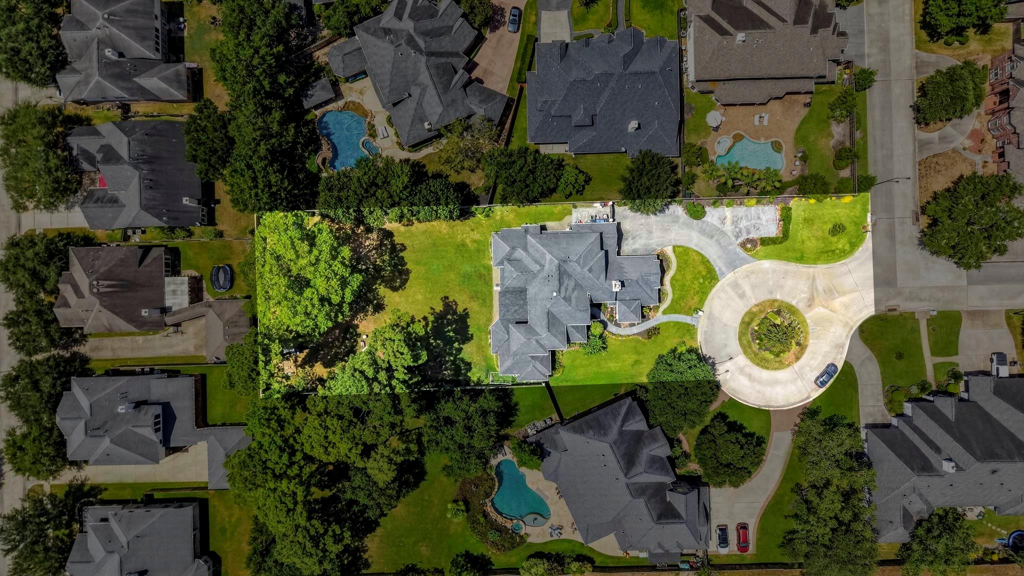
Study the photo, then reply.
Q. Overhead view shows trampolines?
Yes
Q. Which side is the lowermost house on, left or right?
left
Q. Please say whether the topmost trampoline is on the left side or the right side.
left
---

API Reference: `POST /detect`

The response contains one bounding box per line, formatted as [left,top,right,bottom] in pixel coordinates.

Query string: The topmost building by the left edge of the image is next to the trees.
[42,0,198,106]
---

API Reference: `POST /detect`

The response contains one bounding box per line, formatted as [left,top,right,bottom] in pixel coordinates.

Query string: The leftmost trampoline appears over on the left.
[204,264,230,292]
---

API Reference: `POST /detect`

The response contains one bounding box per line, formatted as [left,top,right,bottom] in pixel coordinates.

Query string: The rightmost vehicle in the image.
[994,349,1012,375]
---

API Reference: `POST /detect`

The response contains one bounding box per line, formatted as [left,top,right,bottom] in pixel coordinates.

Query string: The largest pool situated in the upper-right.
[713,130,787,174]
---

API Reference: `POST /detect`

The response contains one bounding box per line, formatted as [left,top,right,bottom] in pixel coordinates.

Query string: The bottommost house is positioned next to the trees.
[48,498,213,576]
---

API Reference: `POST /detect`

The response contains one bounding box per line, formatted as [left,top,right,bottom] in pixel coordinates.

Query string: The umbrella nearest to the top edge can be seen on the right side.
[706,111,723,128]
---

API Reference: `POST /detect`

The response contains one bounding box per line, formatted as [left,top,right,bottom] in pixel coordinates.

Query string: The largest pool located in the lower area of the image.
[490,458,552,521]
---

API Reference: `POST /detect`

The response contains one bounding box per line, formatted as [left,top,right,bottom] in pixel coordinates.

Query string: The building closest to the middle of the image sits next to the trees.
[491,222,664,382]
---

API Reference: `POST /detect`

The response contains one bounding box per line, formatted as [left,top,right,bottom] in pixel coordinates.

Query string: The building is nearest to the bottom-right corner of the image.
[861,375,1024,543]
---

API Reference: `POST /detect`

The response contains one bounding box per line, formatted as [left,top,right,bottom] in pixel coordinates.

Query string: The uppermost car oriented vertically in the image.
[507,2,521,33]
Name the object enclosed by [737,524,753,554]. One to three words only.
car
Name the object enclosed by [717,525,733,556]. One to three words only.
car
